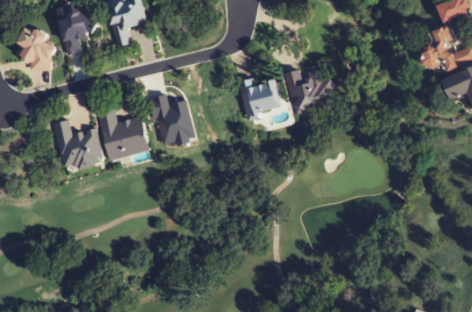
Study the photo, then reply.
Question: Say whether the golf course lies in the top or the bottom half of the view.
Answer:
bottom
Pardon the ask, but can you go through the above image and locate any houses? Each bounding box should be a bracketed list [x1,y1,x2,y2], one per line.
[286,69,335,111]
[101,112,151,159]
[20,28,57,76]
[240,78,282,120]
[437,0,472,21]
[108,0,146,42]
[56,2,94,54]
[52,119,105,171]
[422,26,472,72]
[152,94,194,146]
[440,66,472,102]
